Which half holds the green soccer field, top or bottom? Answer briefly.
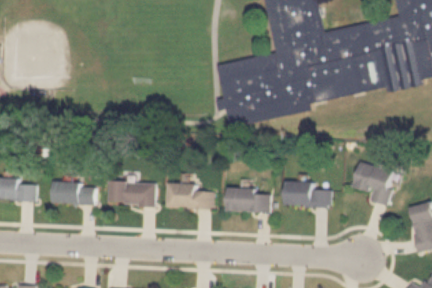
top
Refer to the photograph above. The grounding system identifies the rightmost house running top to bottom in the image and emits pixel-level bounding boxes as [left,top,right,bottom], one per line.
[408,200,432,256]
